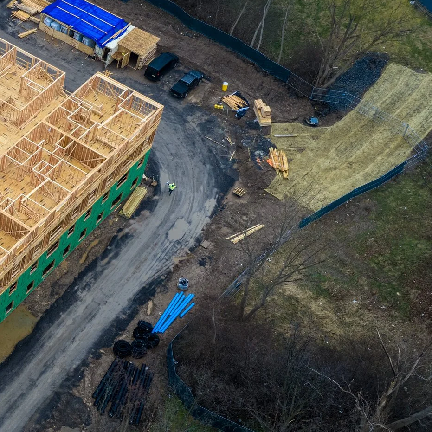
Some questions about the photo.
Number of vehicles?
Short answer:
2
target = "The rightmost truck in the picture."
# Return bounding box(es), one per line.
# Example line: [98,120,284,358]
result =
[169,69,205,100]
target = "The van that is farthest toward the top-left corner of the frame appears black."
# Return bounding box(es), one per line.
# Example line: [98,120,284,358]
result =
[145,53,181,84]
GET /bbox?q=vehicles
[169,69,205,100]
[145,53,181,84]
